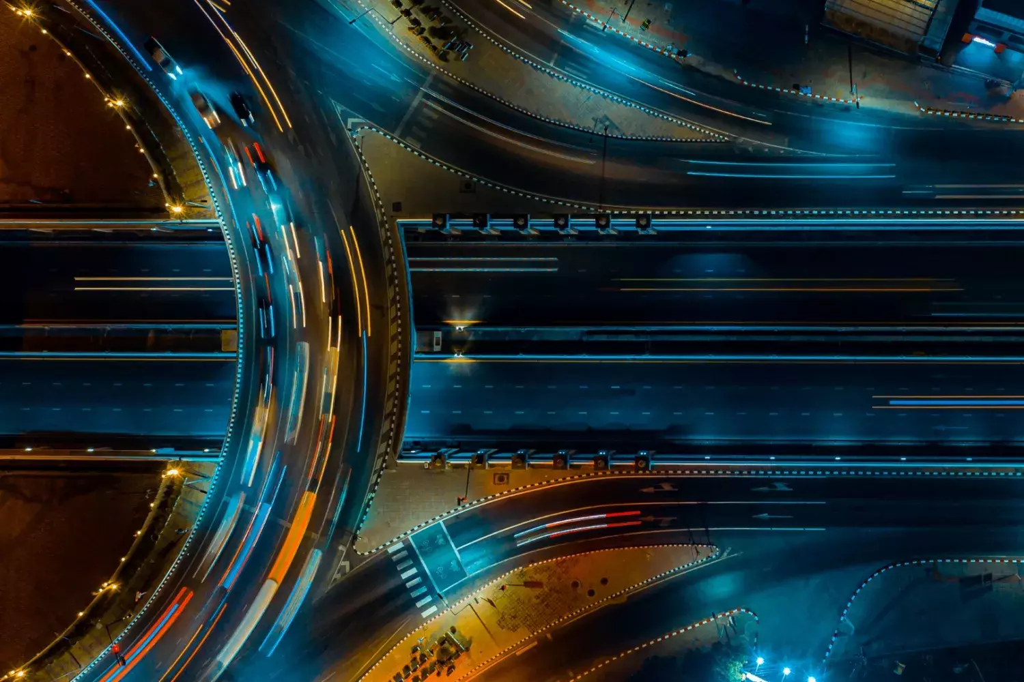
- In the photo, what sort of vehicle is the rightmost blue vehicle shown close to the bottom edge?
bus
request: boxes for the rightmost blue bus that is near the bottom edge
[253,551,321,661]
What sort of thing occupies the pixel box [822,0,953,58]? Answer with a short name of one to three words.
building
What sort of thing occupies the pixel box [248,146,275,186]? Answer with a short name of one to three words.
car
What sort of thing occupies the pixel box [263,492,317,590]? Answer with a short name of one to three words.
bus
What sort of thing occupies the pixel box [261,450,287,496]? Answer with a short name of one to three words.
truck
